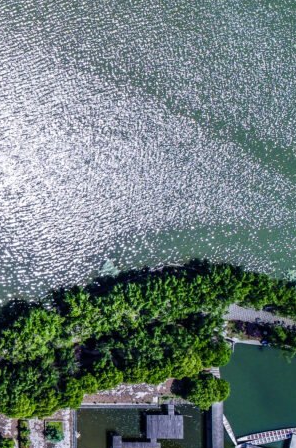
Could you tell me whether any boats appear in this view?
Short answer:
Yes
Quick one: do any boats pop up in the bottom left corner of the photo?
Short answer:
No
